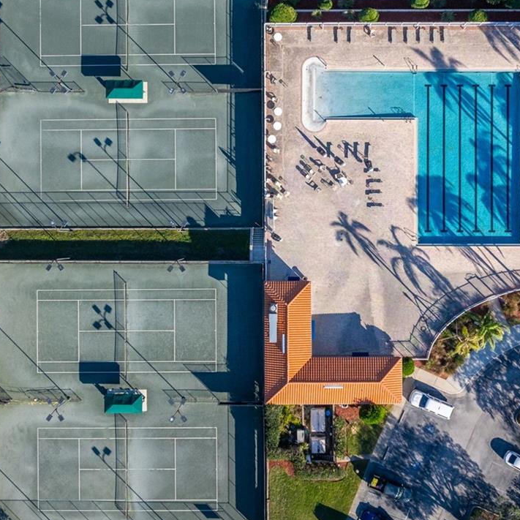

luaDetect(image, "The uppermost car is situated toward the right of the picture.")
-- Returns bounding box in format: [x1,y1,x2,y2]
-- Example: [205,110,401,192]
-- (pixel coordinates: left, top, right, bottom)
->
[411,394,453,422]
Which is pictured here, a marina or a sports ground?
sports ground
